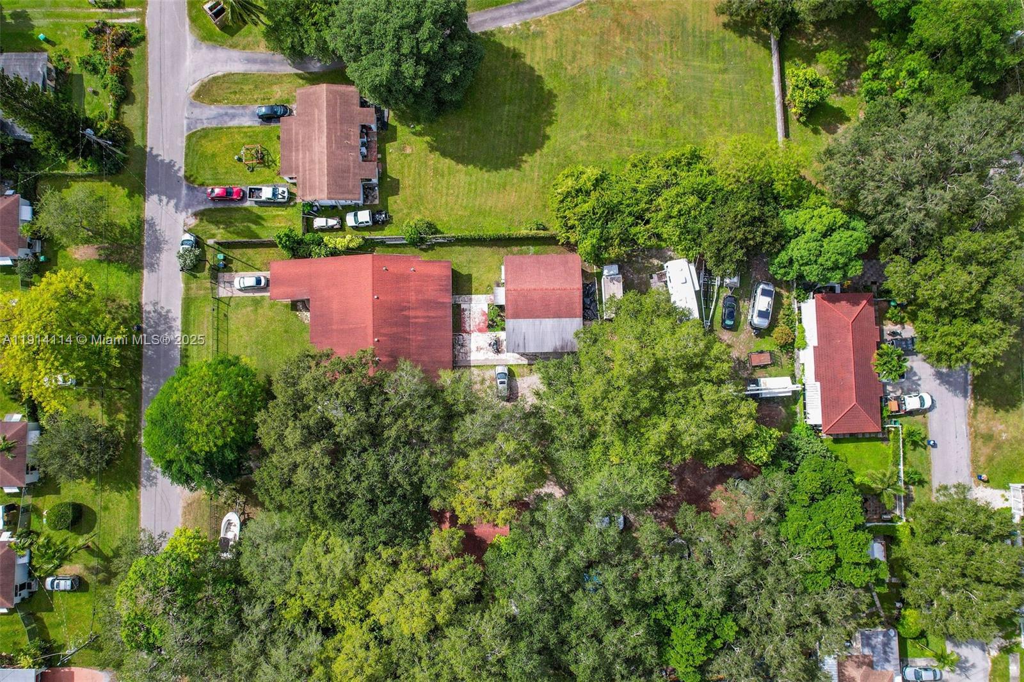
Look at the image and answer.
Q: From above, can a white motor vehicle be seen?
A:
Yes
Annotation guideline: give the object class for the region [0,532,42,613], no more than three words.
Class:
house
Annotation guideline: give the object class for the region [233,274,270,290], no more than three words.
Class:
car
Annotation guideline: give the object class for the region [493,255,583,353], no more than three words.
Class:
building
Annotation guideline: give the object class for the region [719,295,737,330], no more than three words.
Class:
car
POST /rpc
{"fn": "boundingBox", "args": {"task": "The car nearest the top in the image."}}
[256,103,291,120]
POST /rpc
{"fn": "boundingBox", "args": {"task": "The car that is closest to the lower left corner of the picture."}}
[44,574,83,593]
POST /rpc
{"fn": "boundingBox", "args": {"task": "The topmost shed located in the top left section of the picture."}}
[203,0,234,29]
